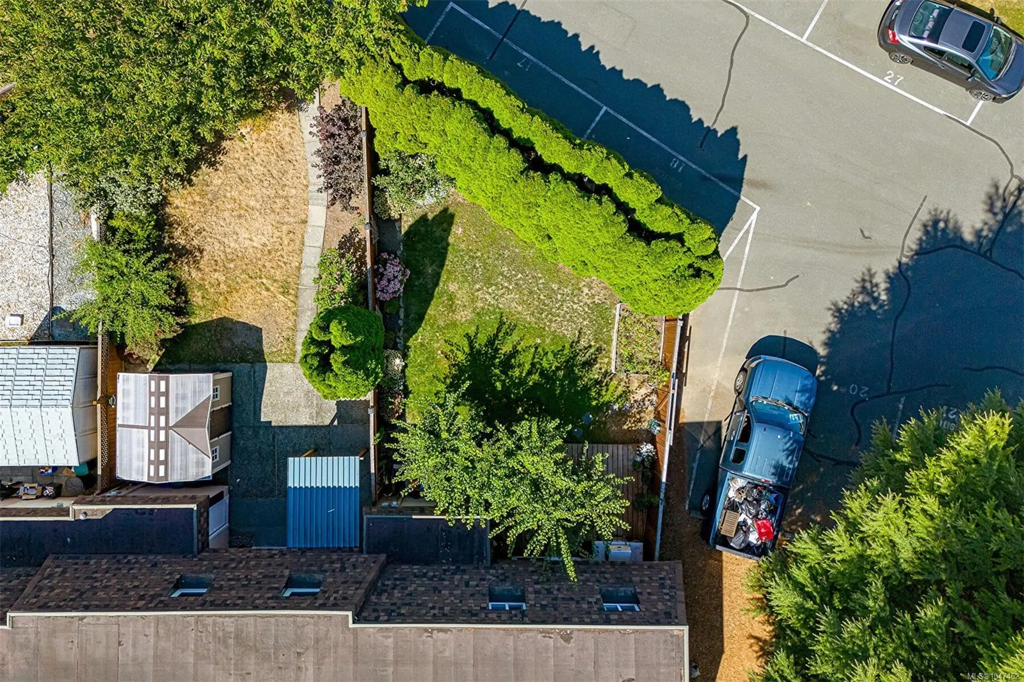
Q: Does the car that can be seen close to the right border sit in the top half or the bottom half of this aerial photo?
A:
top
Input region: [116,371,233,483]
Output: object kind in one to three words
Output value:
shed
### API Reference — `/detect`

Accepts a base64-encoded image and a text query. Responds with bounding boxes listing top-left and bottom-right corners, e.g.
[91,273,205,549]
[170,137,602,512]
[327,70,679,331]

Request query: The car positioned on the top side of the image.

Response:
[875,0,1024,103]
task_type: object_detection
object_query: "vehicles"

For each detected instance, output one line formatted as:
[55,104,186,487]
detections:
[705,354,818,561]
[875,0,1024,103]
